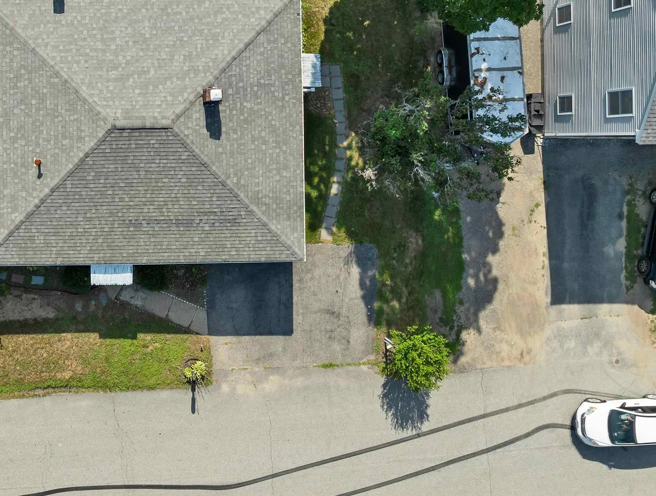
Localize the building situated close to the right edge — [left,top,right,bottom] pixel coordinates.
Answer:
[542,0,656,148]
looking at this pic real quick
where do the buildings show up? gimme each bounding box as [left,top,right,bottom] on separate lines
[542,0,656,148]
[0,0,323,286]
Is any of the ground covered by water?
No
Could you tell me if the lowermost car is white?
Yes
